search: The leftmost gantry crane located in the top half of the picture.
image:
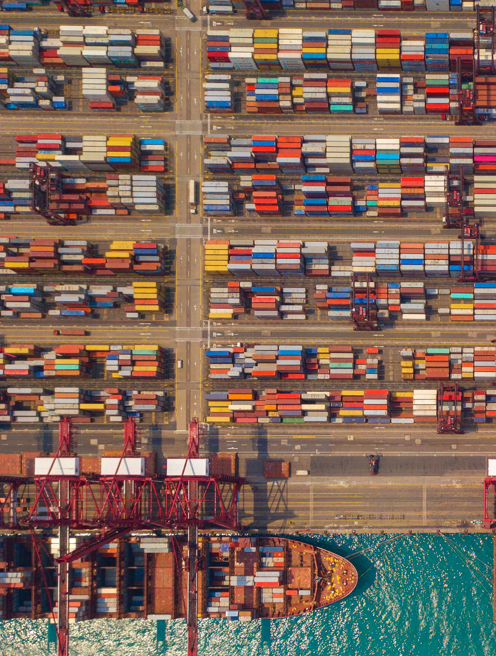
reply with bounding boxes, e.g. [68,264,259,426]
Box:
[32,162,72,224]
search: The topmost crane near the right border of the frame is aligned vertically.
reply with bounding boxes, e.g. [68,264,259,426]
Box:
[472,6,496,74]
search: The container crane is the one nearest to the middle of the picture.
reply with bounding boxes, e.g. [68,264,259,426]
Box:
[351,272,380,330]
